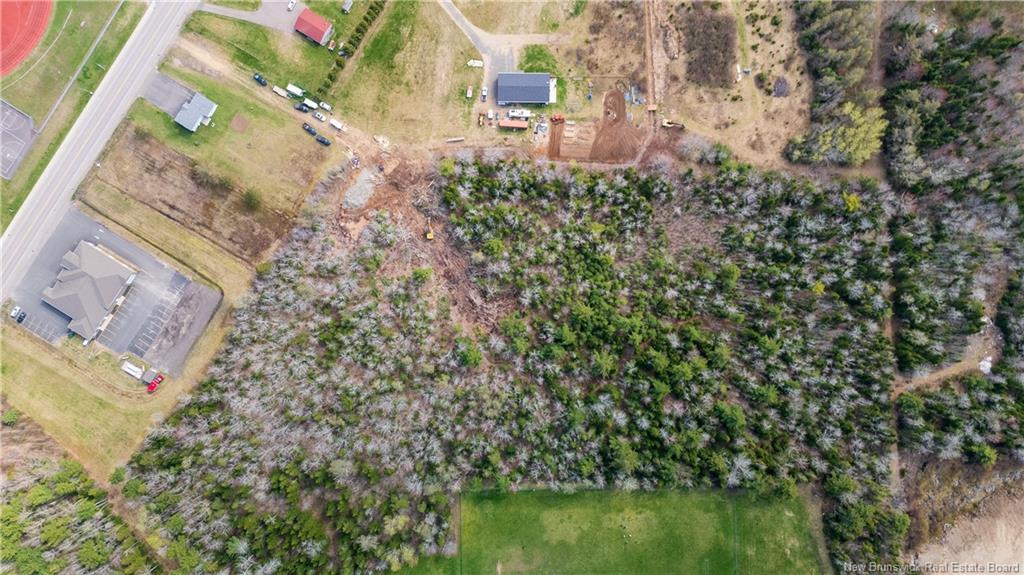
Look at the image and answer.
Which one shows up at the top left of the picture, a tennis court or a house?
house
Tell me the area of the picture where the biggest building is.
left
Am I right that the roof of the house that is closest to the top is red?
Yes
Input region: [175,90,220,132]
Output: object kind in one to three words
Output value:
house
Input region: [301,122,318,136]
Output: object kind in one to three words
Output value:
vehicle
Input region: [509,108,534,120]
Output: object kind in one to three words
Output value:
vehicle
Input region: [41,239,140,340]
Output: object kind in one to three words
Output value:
building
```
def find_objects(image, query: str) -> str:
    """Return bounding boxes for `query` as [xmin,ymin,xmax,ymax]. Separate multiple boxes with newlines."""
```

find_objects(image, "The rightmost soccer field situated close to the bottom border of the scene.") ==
[397,491,819,575]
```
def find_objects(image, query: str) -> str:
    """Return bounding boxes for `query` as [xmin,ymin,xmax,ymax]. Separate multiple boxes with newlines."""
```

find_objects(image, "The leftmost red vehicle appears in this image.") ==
[148,374,164,391]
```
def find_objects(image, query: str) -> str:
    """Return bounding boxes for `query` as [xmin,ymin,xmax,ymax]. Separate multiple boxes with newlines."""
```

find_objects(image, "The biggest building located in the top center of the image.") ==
[497,72,550,103]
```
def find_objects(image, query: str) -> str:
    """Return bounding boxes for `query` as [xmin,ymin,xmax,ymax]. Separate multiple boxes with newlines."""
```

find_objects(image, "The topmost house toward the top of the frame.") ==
[294,8,333,45]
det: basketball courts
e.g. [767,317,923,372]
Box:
[0,100,35,179]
